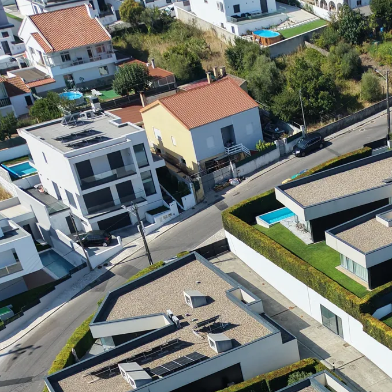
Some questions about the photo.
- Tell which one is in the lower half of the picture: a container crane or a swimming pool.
swimming pool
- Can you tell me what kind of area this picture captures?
residential area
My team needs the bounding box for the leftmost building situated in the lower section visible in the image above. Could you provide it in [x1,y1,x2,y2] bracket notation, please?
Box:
[0,211,48,301]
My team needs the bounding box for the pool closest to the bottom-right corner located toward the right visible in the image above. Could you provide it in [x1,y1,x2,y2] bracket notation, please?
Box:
[255,201,296,226]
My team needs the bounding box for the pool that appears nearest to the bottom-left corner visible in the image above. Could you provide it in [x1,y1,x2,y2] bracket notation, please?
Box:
[39,248,70,276]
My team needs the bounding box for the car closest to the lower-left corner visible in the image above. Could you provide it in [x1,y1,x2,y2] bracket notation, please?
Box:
[79,229,112,247]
